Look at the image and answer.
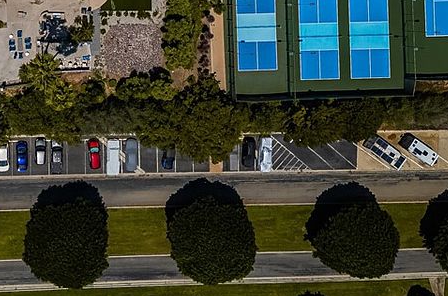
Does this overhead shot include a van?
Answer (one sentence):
Yes, the frame does contain a van.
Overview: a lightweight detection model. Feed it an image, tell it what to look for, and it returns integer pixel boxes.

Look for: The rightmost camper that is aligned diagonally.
[395,130,441,168]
